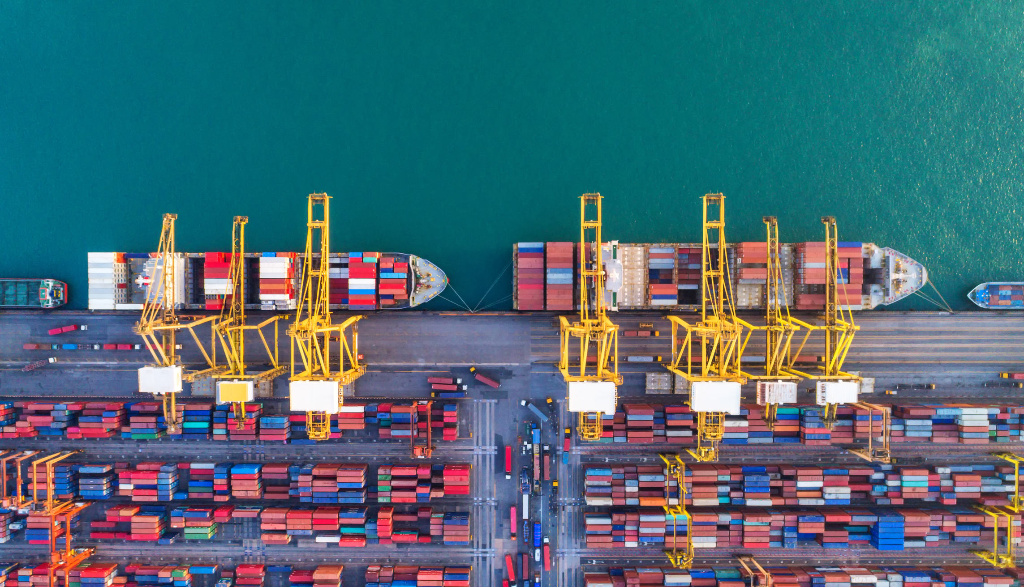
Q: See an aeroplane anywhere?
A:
No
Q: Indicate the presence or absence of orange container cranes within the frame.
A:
Yes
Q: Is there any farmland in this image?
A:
No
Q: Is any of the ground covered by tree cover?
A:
No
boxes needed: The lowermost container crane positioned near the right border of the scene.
[962,502,1013,569]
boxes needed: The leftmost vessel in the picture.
[0,279,72,307]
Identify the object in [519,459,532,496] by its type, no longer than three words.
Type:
vehicle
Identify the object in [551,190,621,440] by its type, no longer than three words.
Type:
container crane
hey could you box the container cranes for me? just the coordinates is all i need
[49,552,97,587]
[984,450,1024,514]
[209,215,295,433]
[134,213,229,435]
[0,448,52,513]
[779,215,862,432]
[410,398,438,463]
[962,502,1013,569]
[844,398,889,459]
[684,413,718,463]
[32,448,81,514]
[654,450,686,514]
[285,187,370,440]
[660,503,692,570]
[724,215,803,432]
[661,188,745,440]
[50,500,98,567]
[551,190,621,440]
